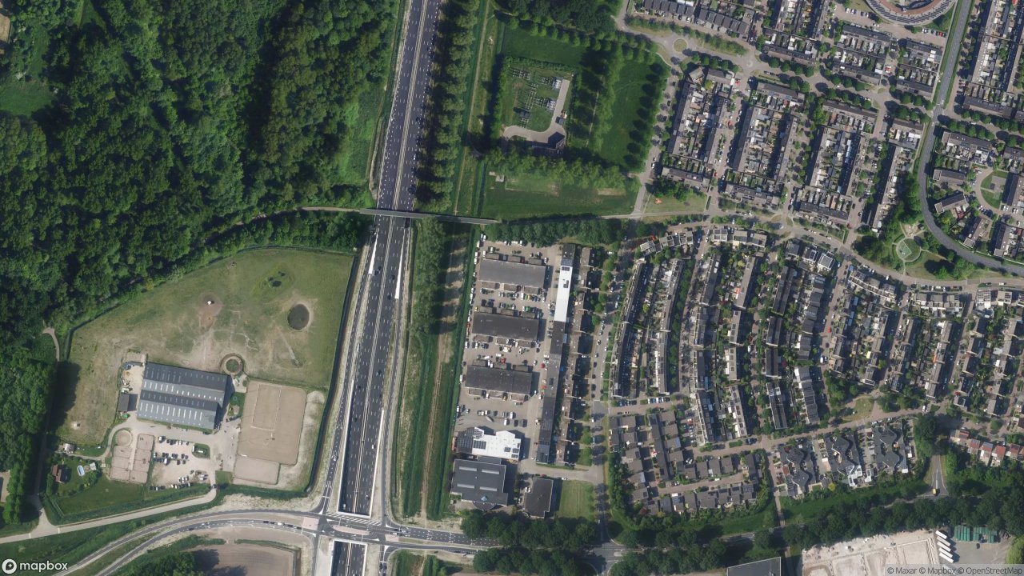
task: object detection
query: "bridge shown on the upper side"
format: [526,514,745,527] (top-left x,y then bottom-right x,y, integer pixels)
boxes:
[352,206,504,223]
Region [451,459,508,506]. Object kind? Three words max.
building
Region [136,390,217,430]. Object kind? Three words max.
building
